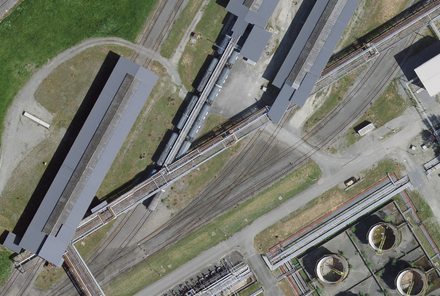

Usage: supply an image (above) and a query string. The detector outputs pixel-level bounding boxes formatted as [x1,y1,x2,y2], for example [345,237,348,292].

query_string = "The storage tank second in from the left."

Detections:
[366,222,398,254]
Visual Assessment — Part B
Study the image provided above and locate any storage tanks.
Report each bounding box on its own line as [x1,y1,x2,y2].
[366,222,398,254]
[316,254,348,285]
[396,266,428,296]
